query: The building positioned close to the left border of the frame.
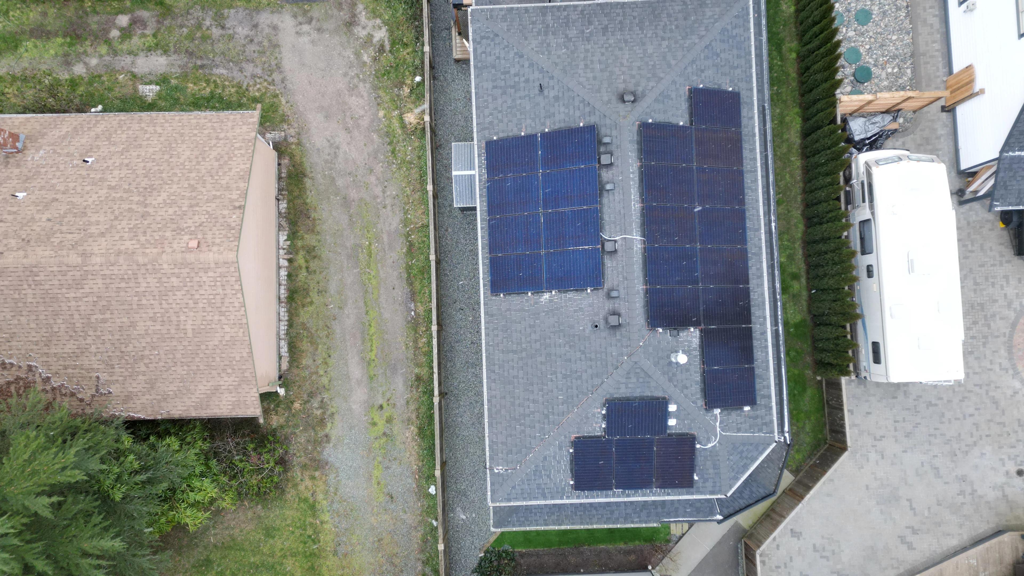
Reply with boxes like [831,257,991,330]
[0,108,285,426]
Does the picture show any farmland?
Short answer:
No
